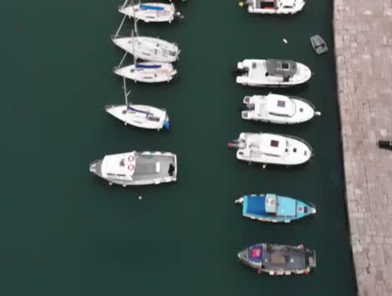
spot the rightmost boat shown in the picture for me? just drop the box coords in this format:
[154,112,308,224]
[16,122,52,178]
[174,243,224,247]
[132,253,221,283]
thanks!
[309,35,329,57]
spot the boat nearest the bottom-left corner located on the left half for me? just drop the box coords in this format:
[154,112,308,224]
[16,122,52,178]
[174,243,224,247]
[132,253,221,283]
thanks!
[88,141,177,191]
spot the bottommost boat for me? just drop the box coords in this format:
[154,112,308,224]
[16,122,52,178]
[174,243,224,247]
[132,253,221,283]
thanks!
[238,240,314,280]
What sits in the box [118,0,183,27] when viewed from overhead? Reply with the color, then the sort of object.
white boat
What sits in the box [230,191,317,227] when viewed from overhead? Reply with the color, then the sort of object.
blue boat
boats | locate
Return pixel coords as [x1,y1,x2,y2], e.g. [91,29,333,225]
[235,59,313,88]
[242,0,307,18]
[230,191,317,227]
[88,141,177,191]
[228,132,313,169]
[309,35,329,57]
[118,0,183,27]
[114,0,181,64]
[105,60,174,133]
[114,28,185,88]
[242,93,324,126]
[238,240,314,280]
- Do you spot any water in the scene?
Yes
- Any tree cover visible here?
No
